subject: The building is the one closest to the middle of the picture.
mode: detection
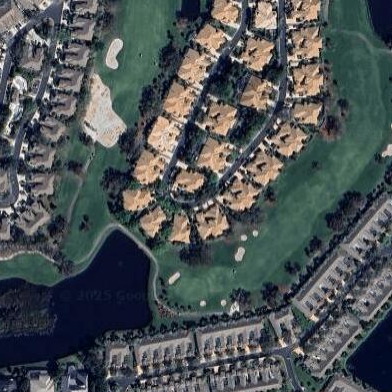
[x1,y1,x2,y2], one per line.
[175,165,202,197]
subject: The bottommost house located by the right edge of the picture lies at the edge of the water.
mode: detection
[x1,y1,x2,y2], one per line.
[332,363,384,392]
